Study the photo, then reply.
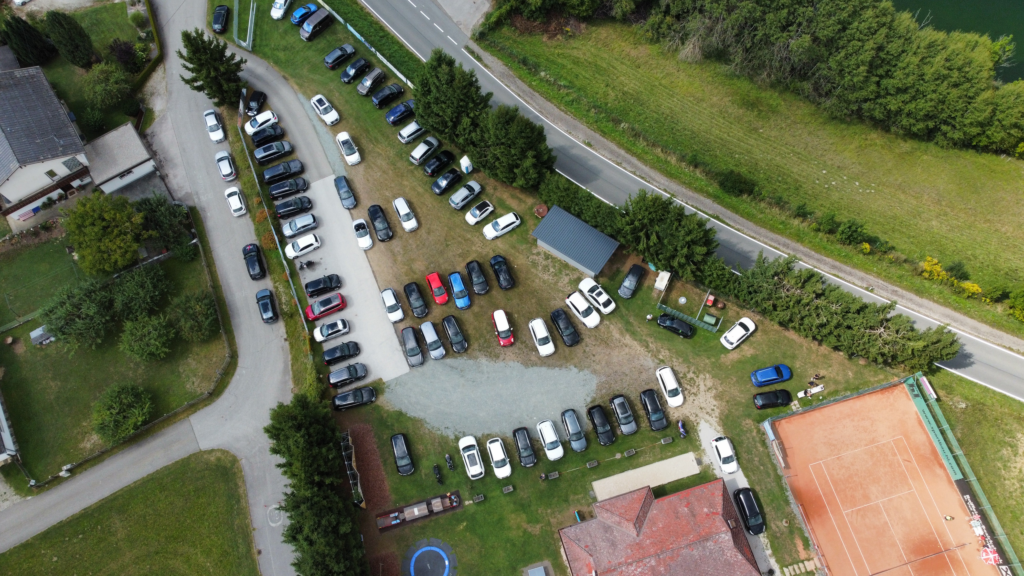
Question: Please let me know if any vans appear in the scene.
Yes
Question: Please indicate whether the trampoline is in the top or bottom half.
bottom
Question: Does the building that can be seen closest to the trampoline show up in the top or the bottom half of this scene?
bottom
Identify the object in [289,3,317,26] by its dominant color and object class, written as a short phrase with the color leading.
blue car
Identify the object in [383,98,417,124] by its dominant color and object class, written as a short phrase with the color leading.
blue car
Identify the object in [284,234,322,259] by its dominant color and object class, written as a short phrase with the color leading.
white car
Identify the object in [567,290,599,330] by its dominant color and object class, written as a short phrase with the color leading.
white car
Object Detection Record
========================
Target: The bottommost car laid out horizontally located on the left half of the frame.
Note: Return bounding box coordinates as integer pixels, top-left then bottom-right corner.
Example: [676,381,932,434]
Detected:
[332,386,377,412]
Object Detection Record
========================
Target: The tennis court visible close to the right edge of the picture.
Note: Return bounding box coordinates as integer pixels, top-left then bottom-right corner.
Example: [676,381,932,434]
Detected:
[769,383,1000,576]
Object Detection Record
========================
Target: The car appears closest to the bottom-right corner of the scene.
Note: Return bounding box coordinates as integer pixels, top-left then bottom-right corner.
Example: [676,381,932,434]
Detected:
[735,487,765,535]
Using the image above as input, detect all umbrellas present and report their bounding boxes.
[976,547,1000,568]
[964,515,981,522]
